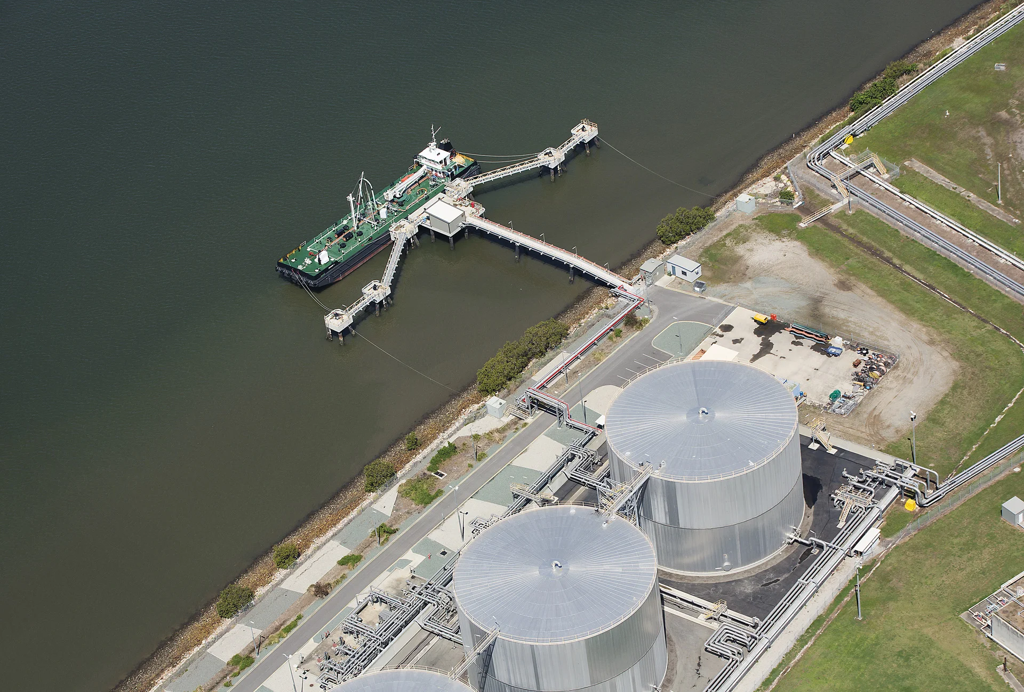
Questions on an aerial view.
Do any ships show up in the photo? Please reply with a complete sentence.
Yes, this view includes a ship.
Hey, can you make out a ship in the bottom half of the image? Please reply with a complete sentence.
No, I can find no ship in the bottom half of the image.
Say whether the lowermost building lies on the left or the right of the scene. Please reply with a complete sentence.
The lowermost building sits on the right side.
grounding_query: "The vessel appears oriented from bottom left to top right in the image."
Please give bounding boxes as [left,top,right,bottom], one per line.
[281,116,481,285]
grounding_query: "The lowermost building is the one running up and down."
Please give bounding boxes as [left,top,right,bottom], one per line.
[992,587,1024,657]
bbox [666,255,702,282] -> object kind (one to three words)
building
